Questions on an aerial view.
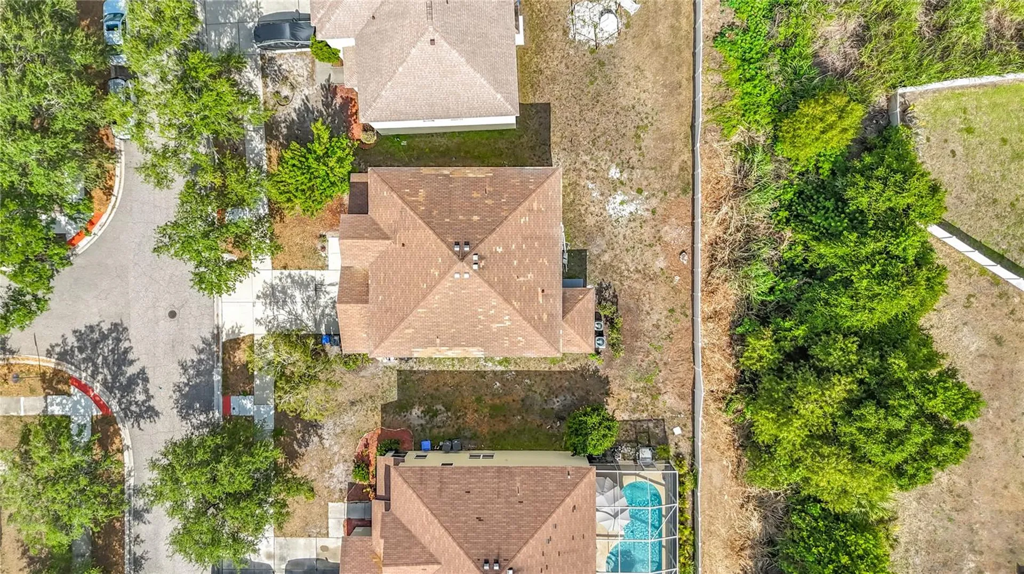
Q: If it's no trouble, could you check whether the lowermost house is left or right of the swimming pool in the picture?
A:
on its left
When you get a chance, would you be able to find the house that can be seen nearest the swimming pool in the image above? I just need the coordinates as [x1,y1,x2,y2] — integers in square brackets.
[336,452,596,574]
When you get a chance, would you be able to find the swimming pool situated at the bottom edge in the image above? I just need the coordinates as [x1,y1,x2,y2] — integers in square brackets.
[602,478,665,574]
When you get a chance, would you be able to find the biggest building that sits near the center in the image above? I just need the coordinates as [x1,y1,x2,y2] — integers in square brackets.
[335,165,596,358]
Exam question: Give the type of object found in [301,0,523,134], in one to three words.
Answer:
house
